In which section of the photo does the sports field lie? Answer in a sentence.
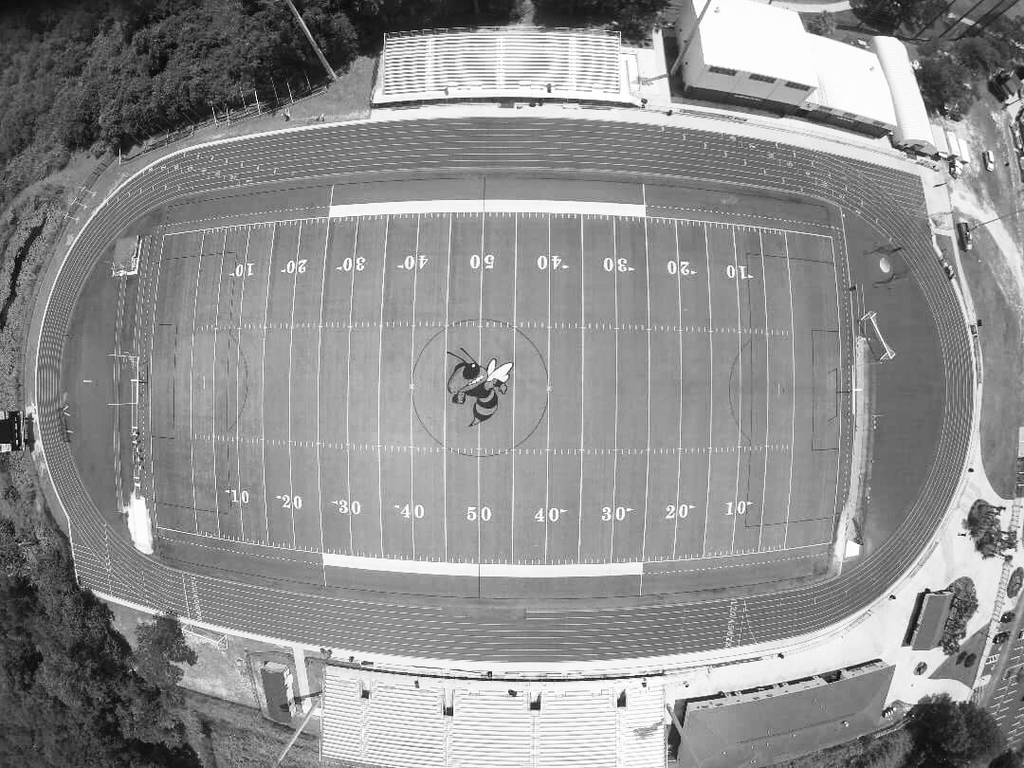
You can find the sports field in the center area of the picture.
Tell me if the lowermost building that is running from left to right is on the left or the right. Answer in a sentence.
The lowermost building that is running from left to right is on the right side of the image.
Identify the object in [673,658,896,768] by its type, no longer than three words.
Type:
building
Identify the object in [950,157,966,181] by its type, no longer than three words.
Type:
vehicle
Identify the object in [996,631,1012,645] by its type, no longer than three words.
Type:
car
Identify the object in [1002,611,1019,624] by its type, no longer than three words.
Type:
vehicle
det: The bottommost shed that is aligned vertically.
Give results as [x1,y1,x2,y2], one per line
[262,653,298,722]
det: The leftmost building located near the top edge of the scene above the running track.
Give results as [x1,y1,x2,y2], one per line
[673,0,821,112]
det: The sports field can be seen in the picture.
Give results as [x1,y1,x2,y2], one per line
[139,174,853,604]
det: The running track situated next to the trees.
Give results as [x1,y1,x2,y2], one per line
[35,114,977,669]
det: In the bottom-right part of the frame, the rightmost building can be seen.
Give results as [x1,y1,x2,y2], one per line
[895,589,954,652]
